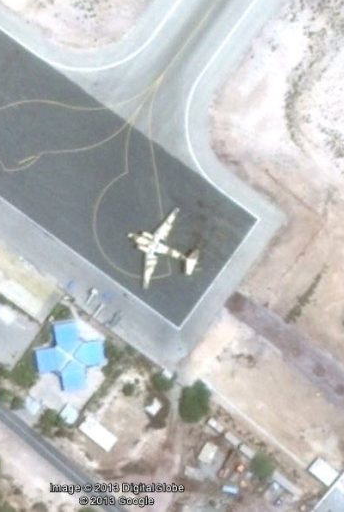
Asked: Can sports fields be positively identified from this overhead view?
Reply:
No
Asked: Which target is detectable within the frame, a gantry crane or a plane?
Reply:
plane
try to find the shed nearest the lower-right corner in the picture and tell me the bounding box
[309,457,340,487]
